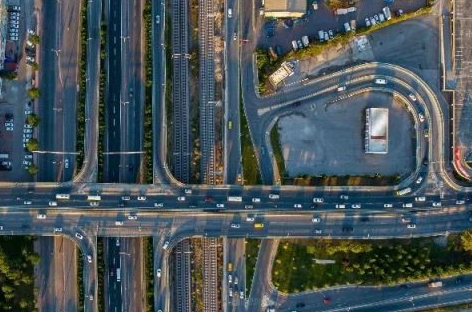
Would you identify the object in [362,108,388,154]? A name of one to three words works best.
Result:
building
